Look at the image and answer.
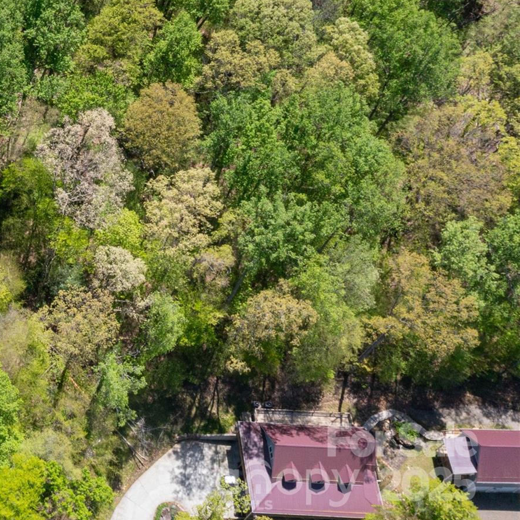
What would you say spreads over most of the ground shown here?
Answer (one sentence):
For the most part, this view shows trees.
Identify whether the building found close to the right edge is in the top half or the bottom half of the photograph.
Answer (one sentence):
The building found close to the right edge sits in the bottom half of the picture.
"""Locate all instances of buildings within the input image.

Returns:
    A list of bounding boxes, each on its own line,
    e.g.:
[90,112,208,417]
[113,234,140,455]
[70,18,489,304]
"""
[416,428,520,492]
[230,407,386,520]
